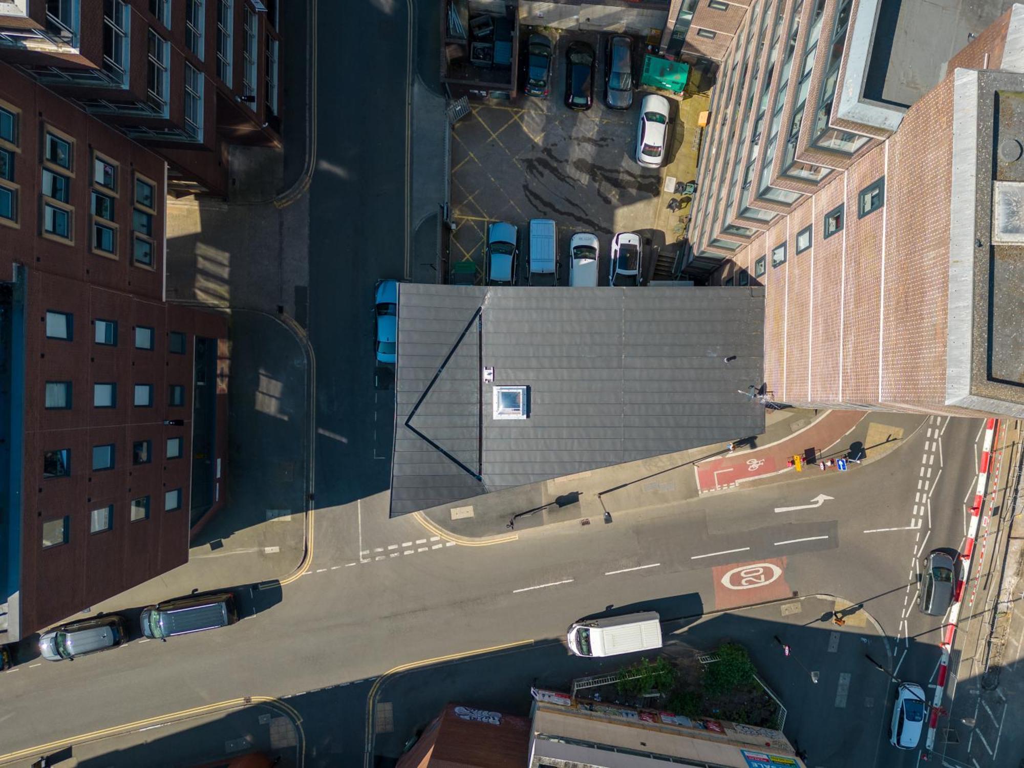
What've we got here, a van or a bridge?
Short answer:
van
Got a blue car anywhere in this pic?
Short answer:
Yes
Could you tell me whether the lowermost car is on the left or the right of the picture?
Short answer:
right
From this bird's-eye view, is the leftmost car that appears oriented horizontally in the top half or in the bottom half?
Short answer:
bottom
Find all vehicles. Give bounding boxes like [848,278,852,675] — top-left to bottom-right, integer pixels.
[0,641,16,671]
[524,219,562,285]
[44,615,129,661]
[609,231,646,286]
[914,548,961,617]
[635,95,672,172]
[485,224,520,285]
[562,45,597,113]
[566,233,602,285]
[602,33,638,112]
[886,680,929,749]
[571,609,660,659]
[372,282,398,362]
[146,593,237,641]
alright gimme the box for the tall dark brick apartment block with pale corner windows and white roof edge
[0,0,284,198]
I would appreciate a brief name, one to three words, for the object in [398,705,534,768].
building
